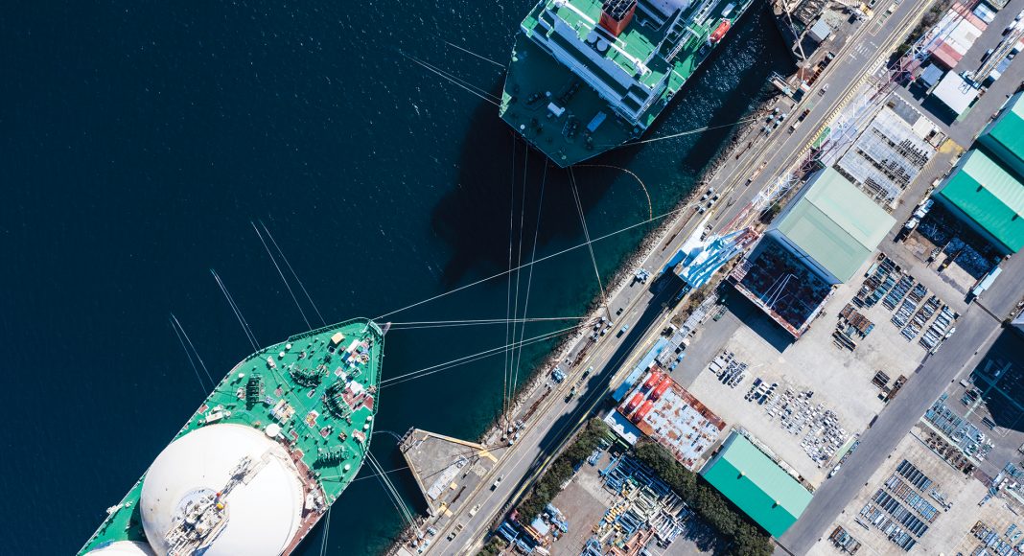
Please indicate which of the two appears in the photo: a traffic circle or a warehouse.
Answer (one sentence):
There is a warehouse in the scene.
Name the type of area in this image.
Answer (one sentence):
The picture captures a port.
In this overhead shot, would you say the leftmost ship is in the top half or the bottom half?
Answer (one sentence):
It is in the bottom half that the leftmost ship appears.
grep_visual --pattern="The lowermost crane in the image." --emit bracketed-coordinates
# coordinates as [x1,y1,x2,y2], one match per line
[654,211,763,297]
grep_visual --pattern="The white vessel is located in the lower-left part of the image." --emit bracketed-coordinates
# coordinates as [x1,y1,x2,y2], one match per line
[73,319,389,556]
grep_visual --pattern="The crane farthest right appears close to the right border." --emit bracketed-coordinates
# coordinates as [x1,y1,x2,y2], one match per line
[964,13,1024,94]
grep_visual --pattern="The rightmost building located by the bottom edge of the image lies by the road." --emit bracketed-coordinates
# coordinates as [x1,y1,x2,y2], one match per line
[702,431,813,539]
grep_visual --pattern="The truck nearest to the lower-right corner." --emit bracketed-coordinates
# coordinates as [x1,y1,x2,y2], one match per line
[929,485,957,509]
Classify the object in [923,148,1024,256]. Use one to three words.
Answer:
building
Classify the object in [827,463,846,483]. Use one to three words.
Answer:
vehicle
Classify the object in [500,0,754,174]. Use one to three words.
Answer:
ship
